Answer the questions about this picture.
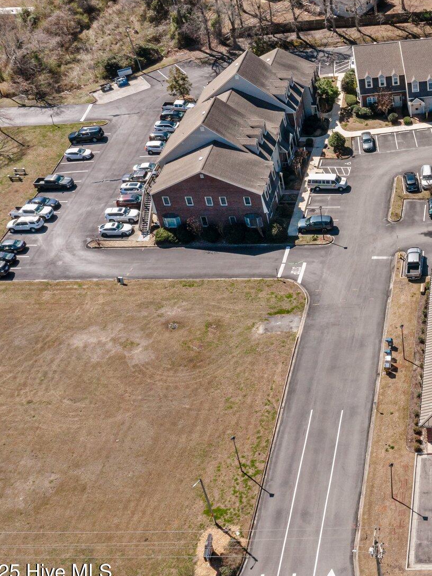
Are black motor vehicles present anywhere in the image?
Yes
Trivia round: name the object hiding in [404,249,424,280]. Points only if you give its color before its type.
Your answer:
gray vehicle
